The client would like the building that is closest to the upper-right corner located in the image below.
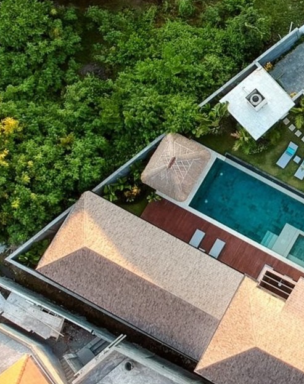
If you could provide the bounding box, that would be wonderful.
[220,64,295,140]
